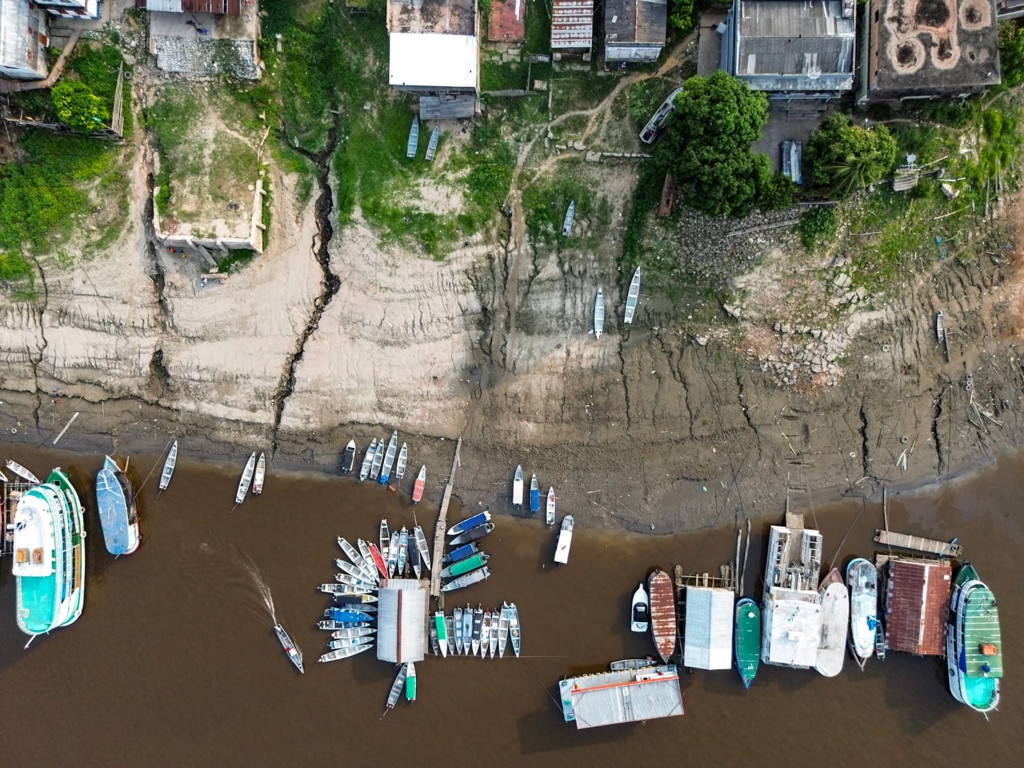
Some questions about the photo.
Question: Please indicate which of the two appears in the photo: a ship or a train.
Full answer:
It is a ship that can be seen here.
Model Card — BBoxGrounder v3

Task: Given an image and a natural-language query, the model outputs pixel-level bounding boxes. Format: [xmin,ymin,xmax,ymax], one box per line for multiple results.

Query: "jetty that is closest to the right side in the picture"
[873,529,961,558]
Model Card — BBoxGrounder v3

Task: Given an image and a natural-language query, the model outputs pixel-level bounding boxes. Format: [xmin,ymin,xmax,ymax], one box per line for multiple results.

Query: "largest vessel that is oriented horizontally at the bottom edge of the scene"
[558,663,685,730]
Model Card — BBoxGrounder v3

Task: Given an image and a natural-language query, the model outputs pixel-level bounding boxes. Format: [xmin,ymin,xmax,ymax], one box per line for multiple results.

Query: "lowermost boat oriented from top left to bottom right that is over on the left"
[272,621,304,673]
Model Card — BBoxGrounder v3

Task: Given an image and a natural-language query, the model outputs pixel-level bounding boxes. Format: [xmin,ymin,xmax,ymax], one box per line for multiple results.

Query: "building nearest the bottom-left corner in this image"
[376,579,425,662]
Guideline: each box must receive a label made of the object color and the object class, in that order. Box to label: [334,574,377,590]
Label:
white boat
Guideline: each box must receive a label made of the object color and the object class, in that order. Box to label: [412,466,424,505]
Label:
red boat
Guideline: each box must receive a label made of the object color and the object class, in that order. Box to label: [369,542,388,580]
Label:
red boat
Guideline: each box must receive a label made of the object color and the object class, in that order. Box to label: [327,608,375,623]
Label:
blue boat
